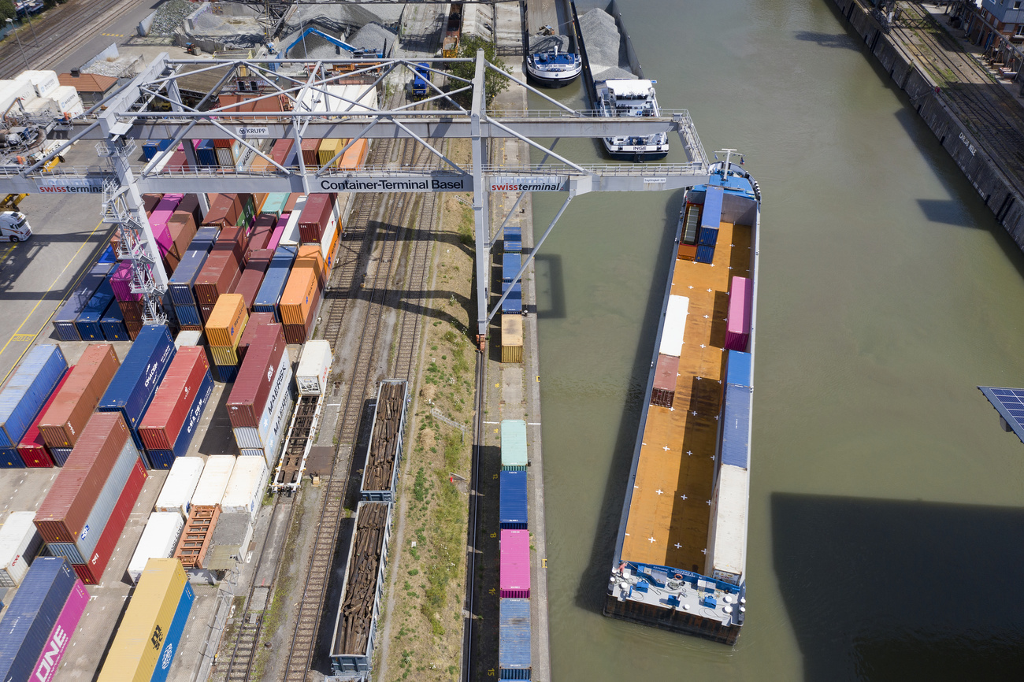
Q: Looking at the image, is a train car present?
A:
Yes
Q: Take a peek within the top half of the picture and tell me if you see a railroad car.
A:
Yes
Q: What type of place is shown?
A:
port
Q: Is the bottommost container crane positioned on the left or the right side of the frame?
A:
left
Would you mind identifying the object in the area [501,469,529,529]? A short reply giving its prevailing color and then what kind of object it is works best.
blue shipping container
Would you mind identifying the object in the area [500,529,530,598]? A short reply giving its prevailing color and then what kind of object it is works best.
pink shipping container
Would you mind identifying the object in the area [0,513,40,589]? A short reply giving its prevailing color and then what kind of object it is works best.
white shipping container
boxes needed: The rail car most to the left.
[271,356,334,499]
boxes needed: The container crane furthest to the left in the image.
[0,45,715,362]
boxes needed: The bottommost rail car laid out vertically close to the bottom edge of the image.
[329,501,394,675]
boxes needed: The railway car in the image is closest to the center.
[360,380,411,506]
